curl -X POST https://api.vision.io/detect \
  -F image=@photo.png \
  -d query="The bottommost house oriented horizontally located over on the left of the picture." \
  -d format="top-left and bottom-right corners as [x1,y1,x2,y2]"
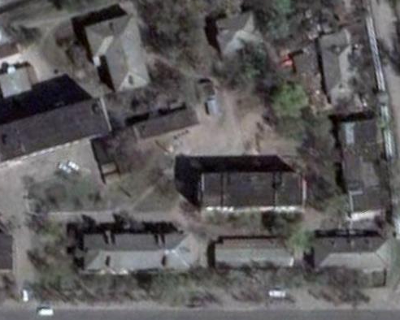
[82,233,191,272]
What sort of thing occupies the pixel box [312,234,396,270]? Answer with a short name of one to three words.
house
